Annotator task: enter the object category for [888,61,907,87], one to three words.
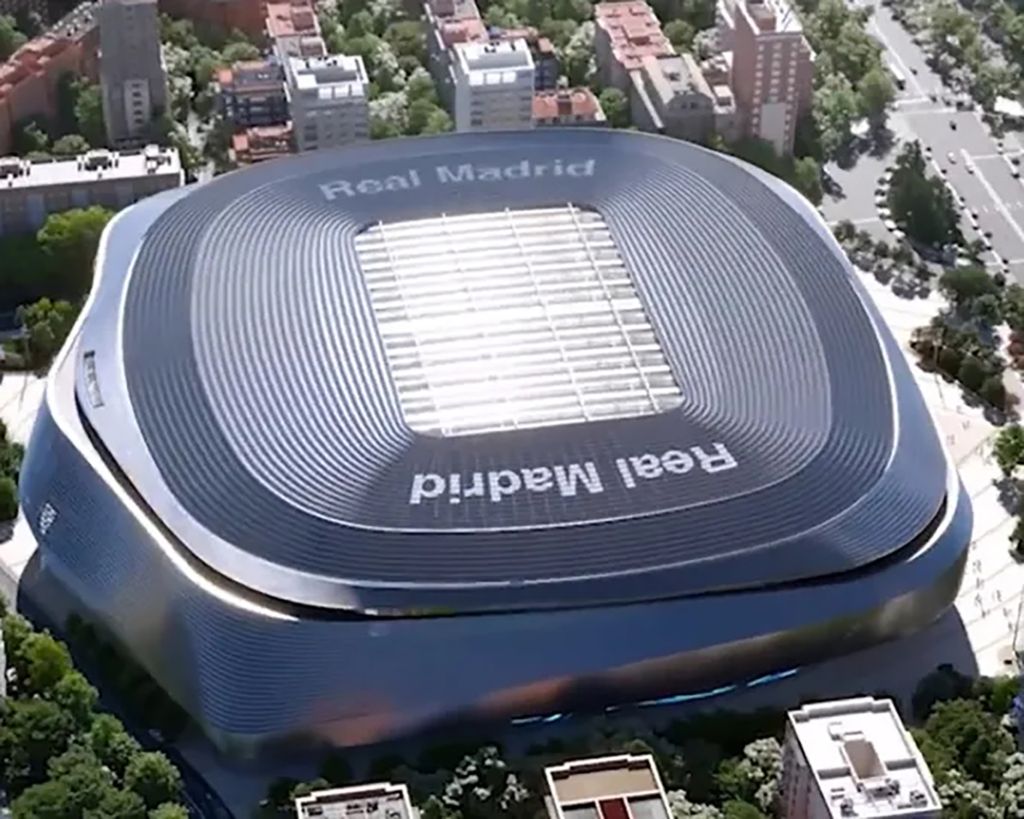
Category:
vehicle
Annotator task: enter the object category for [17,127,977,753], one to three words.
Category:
stadium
